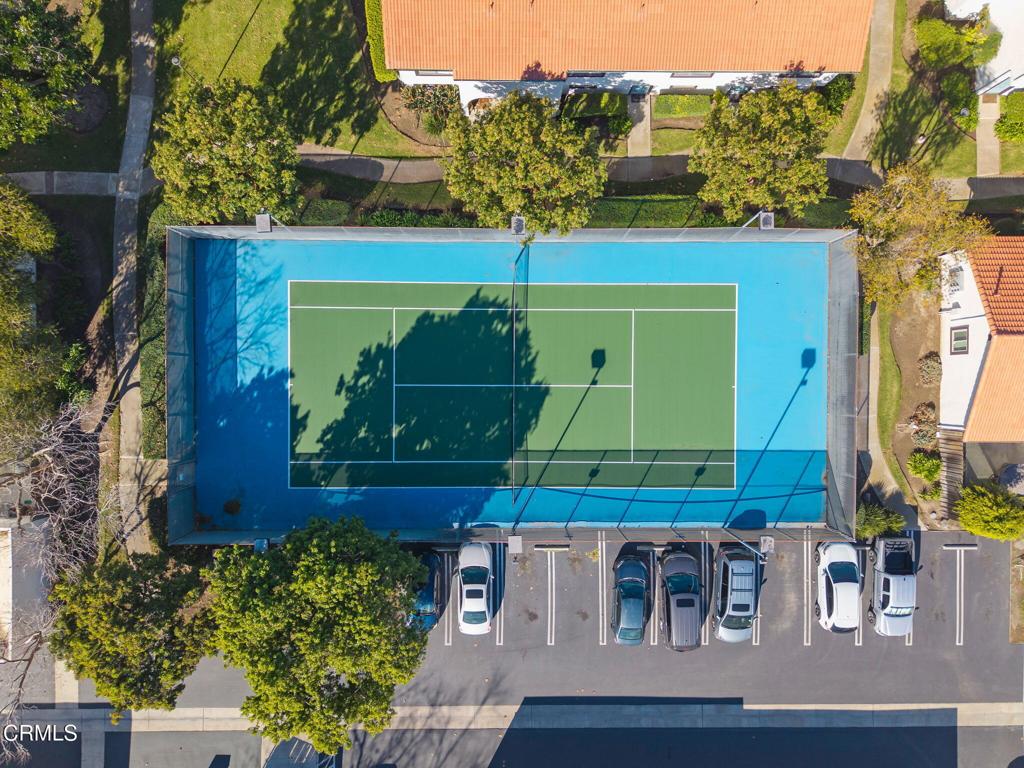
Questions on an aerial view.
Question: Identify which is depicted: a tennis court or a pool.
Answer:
tennis court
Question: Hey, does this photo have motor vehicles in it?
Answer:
Yes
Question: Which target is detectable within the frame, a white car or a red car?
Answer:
white car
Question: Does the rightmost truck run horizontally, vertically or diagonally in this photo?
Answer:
vertically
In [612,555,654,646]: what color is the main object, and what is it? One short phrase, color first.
blue car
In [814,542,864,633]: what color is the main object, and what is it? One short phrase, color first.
white car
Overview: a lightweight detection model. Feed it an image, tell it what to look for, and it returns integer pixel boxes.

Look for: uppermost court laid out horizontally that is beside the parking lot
[193,238,829,528]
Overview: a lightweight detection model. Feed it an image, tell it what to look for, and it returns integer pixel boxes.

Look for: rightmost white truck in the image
[868,536,920,636]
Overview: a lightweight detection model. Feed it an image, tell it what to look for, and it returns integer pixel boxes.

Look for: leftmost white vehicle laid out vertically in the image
[455,542,496,635]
